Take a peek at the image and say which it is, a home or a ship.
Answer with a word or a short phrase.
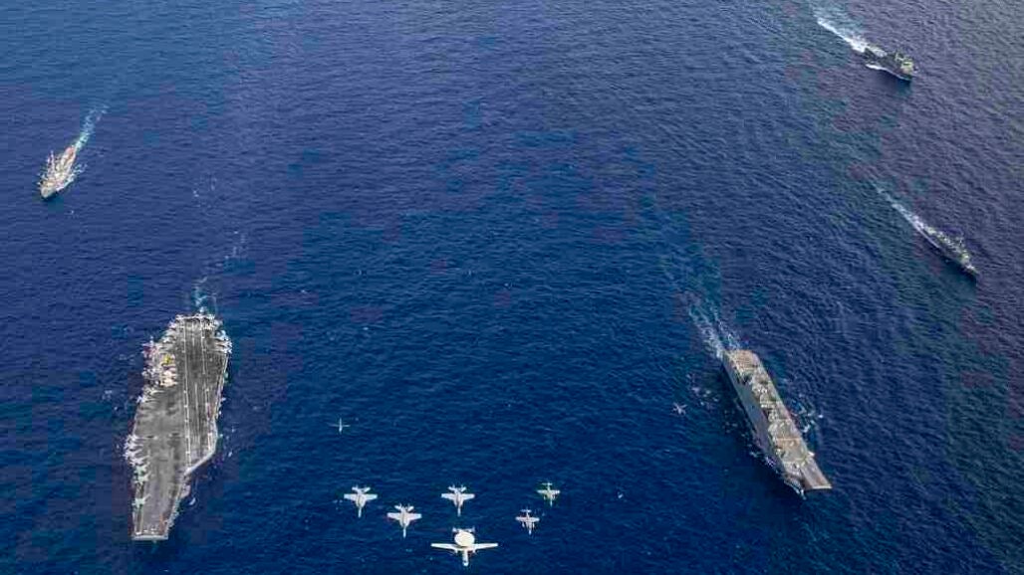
ship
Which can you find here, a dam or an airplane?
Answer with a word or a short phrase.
airplane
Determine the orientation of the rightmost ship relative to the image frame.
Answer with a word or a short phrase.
diagonally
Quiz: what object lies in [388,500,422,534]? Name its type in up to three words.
airplane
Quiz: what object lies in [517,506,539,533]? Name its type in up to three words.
airplane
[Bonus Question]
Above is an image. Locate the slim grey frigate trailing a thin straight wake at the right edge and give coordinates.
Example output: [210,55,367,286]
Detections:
[917,231,979,279]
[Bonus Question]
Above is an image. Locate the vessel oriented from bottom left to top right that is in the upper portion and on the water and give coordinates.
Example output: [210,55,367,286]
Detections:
[45,141,85,198]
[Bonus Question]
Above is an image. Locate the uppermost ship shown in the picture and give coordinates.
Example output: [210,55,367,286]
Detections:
[864,51,916,82]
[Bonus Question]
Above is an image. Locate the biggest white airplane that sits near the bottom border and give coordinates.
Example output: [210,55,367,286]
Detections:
[432,529,499,567]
